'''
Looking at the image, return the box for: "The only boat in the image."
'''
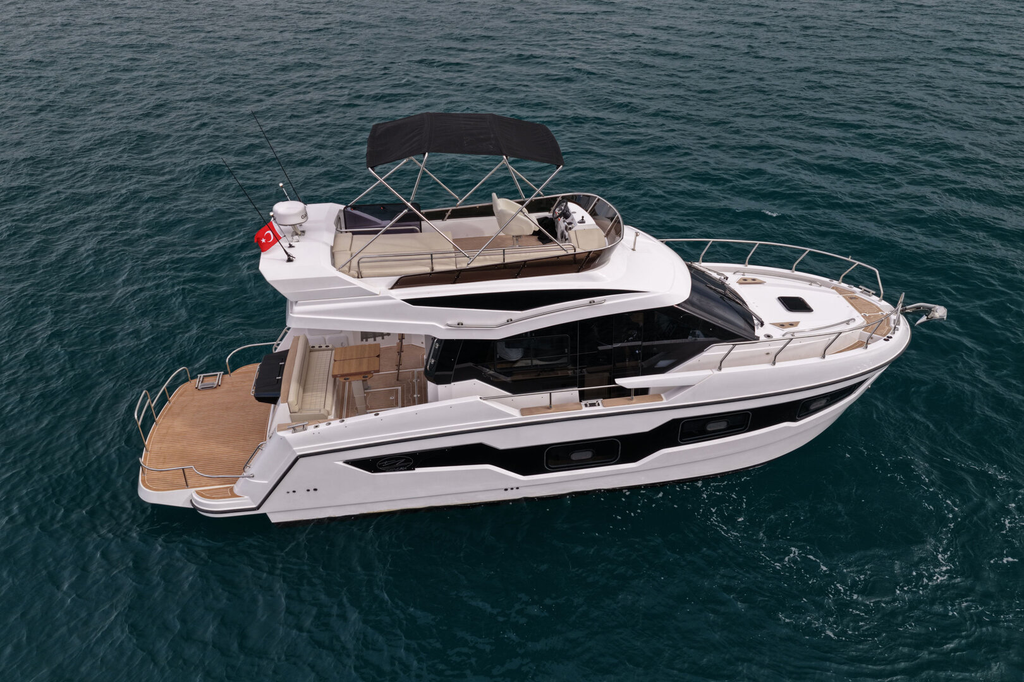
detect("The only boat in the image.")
[135,109,916,528]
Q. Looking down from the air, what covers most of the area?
water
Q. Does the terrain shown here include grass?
No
